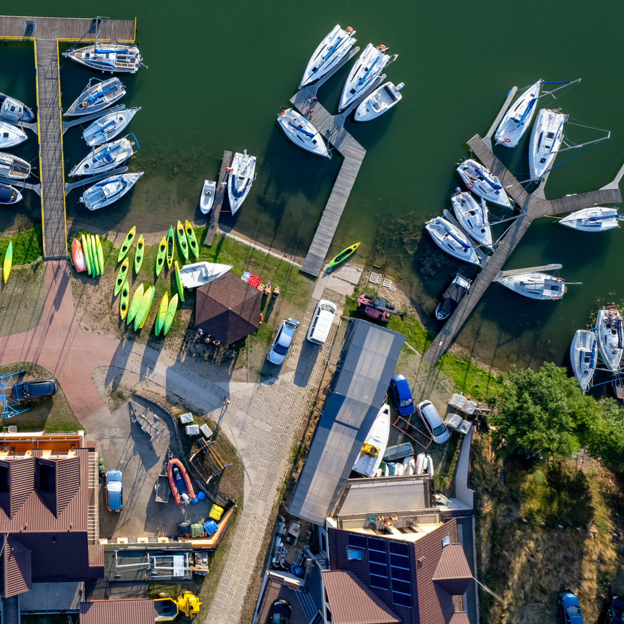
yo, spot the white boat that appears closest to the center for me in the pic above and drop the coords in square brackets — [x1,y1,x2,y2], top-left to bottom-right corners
[180,261,234,286]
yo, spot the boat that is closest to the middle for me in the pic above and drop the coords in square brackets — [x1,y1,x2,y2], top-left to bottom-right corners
[331,242,361,263]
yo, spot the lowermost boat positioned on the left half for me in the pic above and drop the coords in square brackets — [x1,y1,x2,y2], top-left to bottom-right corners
[166,443,197,512]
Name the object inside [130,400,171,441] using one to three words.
trailer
